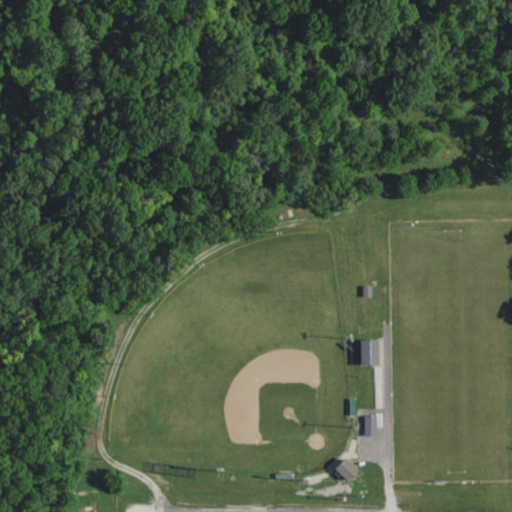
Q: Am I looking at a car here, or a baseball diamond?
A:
baseball diamond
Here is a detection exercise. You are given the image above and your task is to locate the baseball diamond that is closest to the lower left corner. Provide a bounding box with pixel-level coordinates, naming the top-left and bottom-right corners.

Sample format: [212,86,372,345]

[110,231,348,468]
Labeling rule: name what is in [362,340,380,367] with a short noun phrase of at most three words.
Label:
building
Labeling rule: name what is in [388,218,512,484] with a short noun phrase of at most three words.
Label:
soccer field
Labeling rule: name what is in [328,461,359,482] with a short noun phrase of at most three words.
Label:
building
